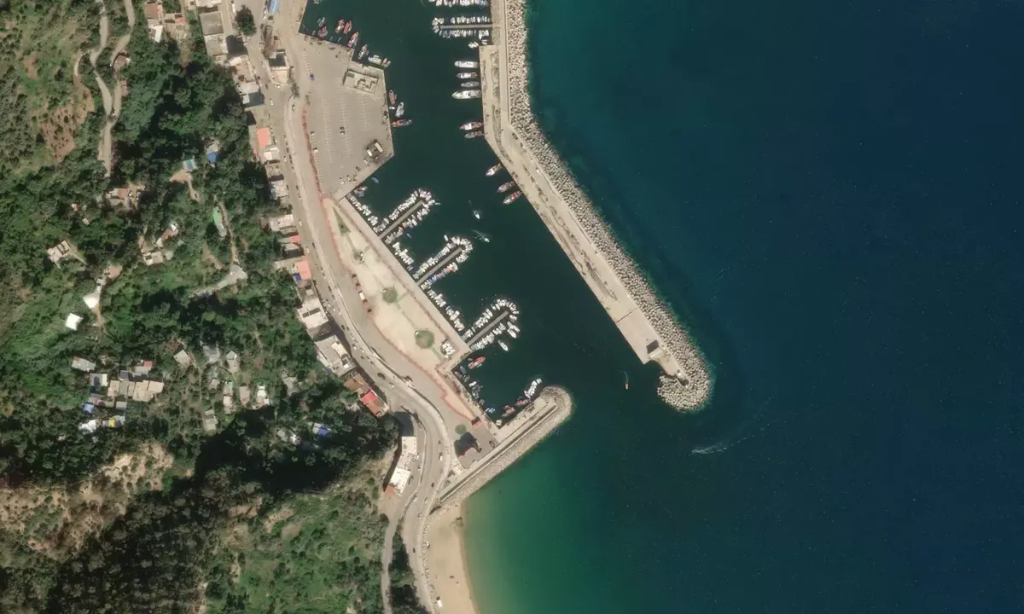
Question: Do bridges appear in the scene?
No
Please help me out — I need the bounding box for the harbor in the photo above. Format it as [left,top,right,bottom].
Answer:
[264,0,499,495]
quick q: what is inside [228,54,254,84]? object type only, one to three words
building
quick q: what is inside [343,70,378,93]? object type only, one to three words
building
